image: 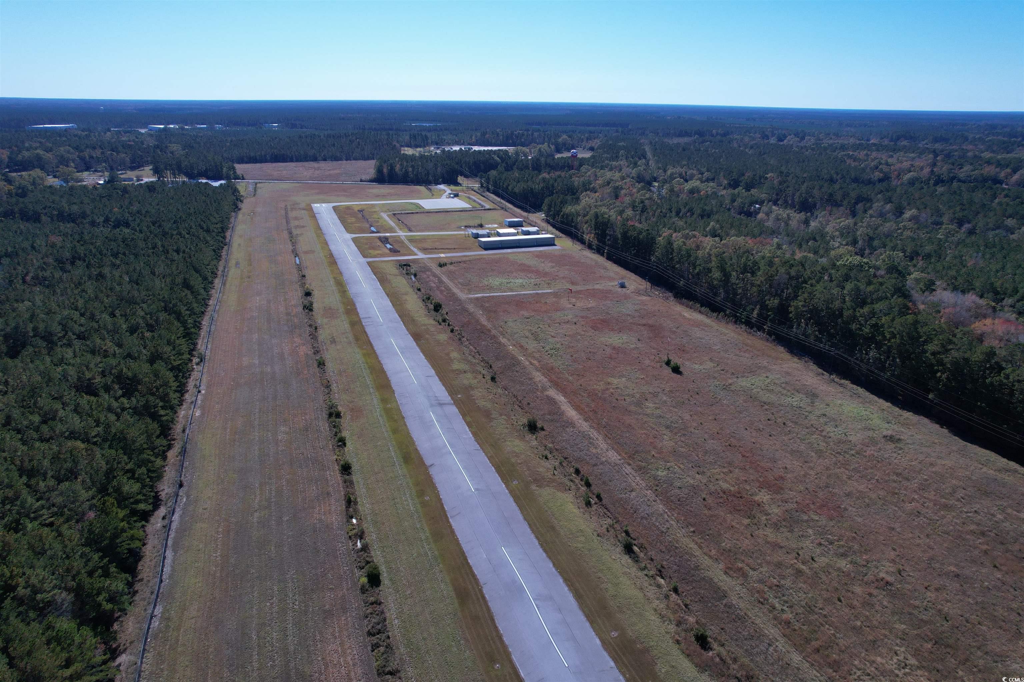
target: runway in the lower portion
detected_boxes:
[312,204,628,682]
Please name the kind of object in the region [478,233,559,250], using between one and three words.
hangar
